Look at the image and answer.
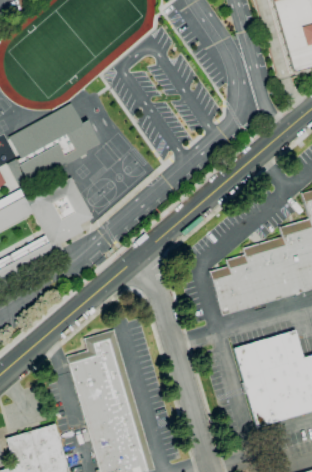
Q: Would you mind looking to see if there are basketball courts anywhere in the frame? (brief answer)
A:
Yes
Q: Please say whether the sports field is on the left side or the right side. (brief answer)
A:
left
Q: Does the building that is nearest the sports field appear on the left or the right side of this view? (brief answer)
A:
left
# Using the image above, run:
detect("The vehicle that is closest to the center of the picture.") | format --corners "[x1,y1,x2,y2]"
[132,233,149,248]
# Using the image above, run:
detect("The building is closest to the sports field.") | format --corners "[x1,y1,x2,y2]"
[8,102,84,162]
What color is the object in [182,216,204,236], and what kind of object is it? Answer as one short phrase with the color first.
green bus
